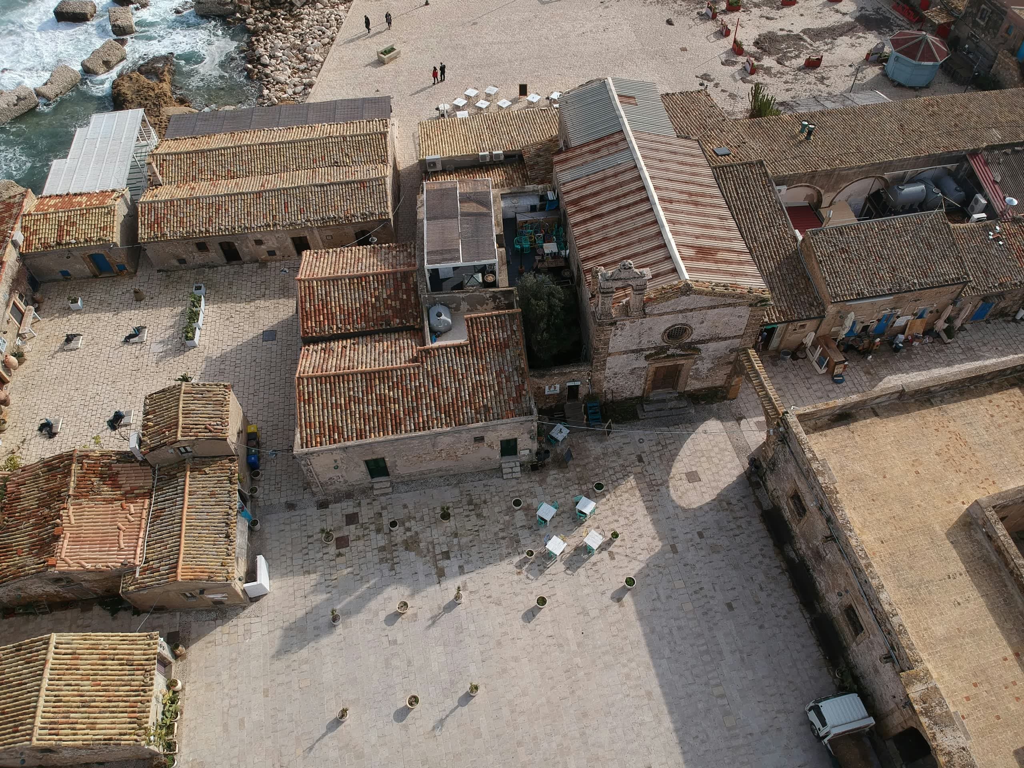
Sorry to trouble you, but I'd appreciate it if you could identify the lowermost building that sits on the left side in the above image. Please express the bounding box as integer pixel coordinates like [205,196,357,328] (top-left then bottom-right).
[0,630,172,761]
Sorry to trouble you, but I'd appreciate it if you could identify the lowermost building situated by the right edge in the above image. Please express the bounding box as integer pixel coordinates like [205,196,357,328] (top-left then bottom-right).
[740,355,1024,768]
